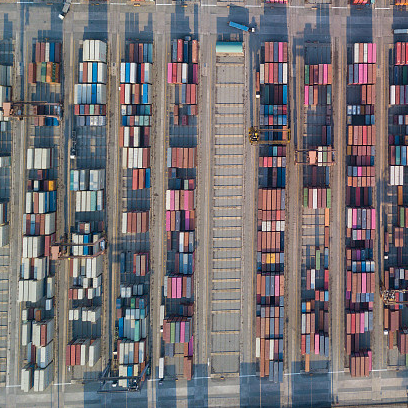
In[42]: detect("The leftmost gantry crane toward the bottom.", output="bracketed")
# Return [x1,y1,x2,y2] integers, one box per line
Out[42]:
[48,235,109,259]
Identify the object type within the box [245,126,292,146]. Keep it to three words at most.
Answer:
container crane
